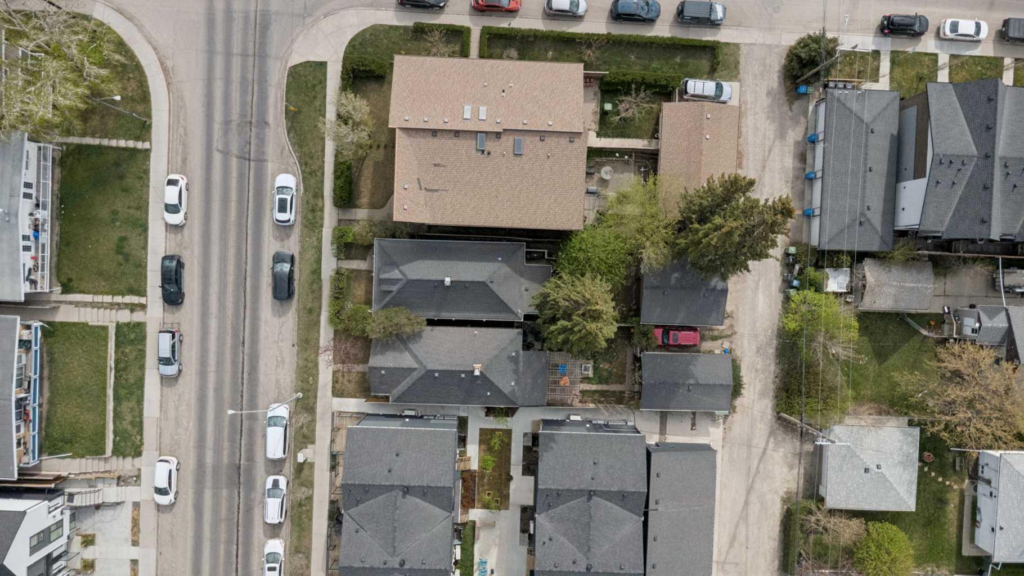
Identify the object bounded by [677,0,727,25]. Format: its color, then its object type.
gray car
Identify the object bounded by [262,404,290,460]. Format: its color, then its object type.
white car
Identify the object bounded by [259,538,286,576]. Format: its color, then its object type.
white car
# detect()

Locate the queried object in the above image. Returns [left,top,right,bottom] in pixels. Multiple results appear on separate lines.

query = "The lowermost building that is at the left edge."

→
[0,488,80,576]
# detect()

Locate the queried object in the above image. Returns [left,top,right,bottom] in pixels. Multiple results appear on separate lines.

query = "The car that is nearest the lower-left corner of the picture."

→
[151,456,180,505]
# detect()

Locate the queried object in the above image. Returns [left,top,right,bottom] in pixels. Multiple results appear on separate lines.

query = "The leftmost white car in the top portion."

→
[161,174,189,226]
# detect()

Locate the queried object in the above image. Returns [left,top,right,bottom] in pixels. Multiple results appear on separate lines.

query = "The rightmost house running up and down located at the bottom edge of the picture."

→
[975,445,1024,562]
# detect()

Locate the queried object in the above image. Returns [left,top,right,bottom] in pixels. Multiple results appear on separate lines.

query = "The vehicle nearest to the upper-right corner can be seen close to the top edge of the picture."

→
[1001,17,1024,43]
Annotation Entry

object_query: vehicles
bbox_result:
[154,328,183,378]
[259,538,286,576]
[262,404,290,460]
[653,326,701,350]
[1001,17,1024,43]
[682,76,732,103]
[611,0,661,21]
[399,0,448,11]
[157,255,185,305]
[270,174,297,226]
[161,174,189,226]
[677,0,727,25]
[268,251,296,301]
[939,17,989,43]
[880,10,930,38]
[472,0,521,12]
[151,456,180,505]
[545,0,589,17]
[261,475,288,525]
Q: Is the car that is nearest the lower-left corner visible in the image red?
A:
No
